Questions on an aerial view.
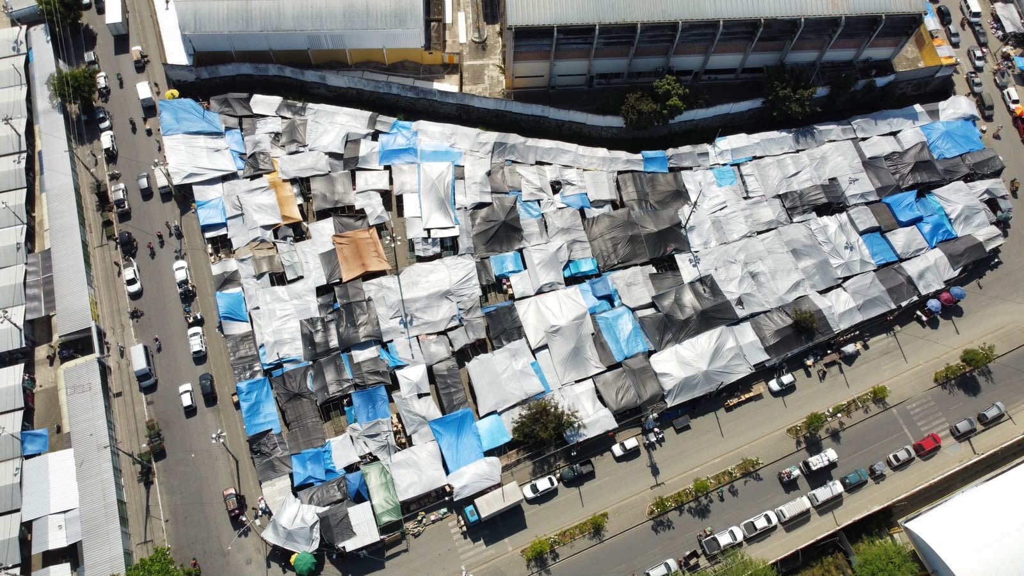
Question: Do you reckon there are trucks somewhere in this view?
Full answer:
Yes, this view includes a truck.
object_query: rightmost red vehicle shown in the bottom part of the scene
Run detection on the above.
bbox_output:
[910,434,942,456]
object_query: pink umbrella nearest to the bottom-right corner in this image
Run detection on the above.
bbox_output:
[938,293,954,307]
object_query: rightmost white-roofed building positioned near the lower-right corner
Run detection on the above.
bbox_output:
[876,457,1024,576]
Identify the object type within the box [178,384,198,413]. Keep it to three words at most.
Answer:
car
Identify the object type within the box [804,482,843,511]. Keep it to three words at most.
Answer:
vehicle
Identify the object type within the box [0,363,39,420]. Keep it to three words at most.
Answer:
shed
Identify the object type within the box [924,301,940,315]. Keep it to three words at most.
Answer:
umbrella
